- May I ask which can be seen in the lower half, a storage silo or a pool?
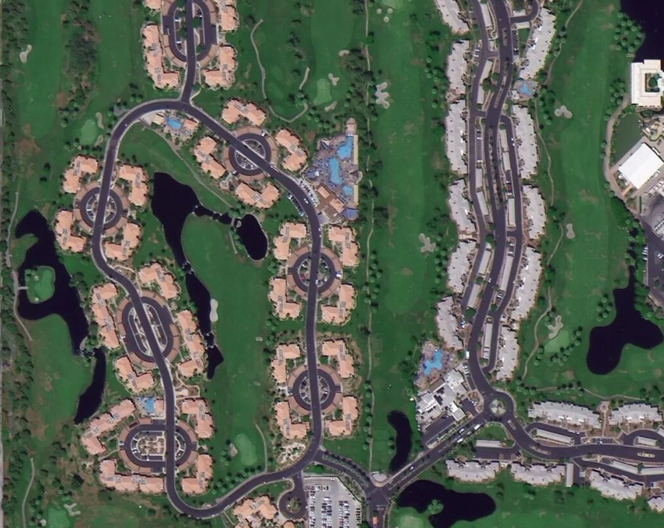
pool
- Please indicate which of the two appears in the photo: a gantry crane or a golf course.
golf course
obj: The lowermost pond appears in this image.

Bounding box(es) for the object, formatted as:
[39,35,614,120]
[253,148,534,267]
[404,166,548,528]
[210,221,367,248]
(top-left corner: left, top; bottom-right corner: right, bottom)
[397,479,496,528]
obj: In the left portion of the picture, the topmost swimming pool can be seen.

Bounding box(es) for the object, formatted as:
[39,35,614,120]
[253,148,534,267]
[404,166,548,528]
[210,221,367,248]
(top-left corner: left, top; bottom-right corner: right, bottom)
[162,113,197,139]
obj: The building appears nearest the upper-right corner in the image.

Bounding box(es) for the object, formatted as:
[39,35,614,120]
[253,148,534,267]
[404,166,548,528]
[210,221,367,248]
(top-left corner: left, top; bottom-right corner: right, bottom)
[632,58,664,107]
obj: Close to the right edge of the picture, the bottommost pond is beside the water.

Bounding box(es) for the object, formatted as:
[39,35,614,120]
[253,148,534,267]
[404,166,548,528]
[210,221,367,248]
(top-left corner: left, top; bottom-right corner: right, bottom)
[586,265,664,375]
